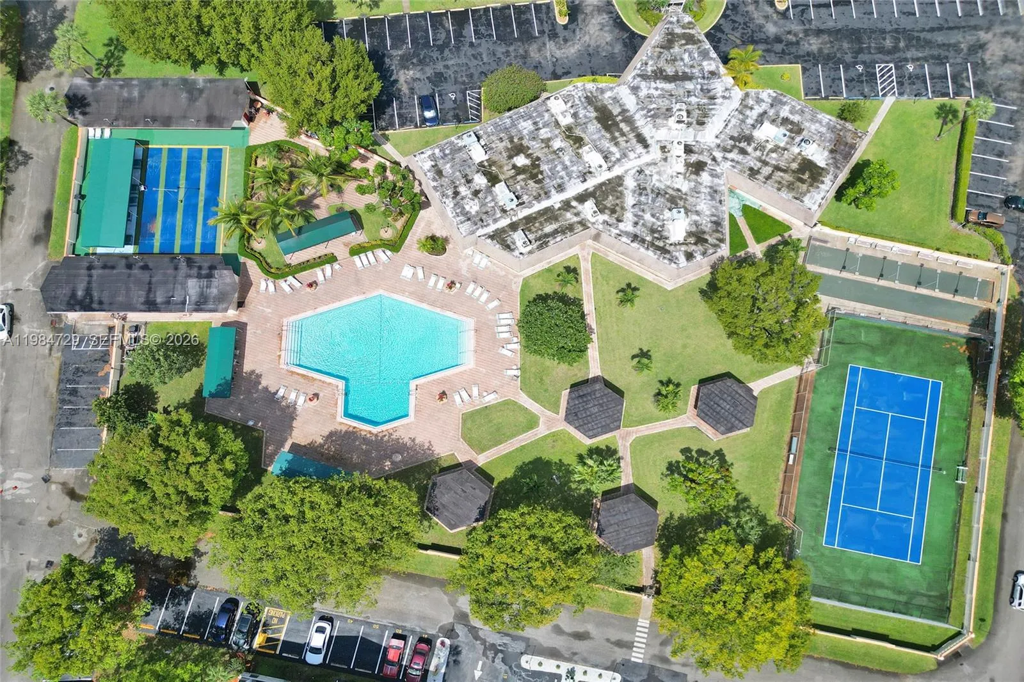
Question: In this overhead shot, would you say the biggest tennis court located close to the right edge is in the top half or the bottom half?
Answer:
bottom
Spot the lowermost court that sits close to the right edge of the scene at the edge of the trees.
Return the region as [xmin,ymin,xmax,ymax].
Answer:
[795,318,975,622]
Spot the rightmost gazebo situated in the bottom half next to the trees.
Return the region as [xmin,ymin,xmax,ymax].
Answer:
[687,378,757,441]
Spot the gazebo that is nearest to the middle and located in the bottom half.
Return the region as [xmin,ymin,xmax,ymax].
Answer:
[559,382,625,444]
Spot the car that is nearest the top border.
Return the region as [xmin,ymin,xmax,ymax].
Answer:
[419,90,438,126]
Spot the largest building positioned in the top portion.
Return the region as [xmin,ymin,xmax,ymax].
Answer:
[404,11,871,280]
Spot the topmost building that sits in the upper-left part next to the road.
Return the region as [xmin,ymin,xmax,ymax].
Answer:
[64,78,251,132]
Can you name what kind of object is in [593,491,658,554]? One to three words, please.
gazebo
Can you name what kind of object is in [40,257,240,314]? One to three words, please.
building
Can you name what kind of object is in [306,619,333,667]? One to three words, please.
car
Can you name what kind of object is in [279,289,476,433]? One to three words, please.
swimming pool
